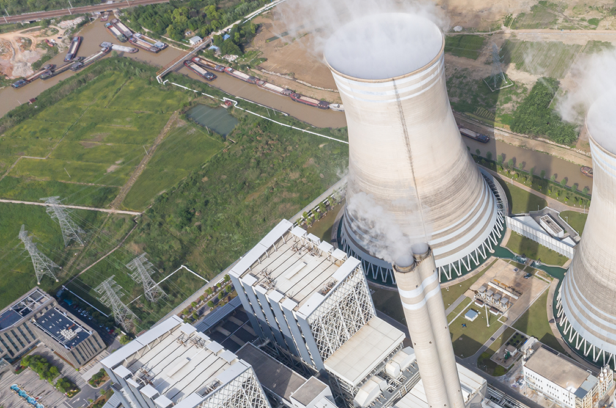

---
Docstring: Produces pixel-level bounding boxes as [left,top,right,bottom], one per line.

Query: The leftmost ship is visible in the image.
[8,63,52,87]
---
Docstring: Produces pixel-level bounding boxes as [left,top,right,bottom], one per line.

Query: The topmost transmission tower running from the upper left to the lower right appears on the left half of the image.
[37,199,89,249]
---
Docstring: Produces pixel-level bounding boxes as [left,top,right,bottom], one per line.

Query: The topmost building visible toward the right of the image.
[539,214,564,240]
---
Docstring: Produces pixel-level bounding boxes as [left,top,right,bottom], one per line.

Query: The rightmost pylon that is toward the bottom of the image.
[131,254,172,305]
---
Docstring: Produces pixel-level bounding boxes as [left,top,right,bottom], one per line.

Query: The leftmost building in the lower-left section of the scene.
[0,287,57,361]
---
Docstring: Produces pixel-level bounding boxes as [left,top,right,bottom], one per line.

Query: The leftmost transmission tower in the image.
[10,229,61,285]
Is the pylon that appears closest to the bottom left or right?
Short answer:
left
